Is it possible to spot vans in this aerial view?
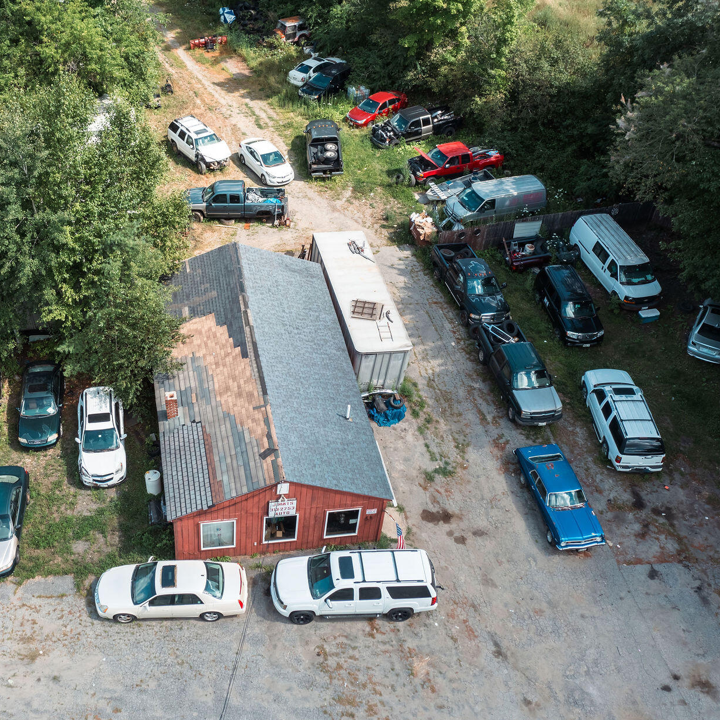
Yes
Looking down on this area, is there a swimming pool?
No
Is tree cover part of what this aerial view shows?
Yes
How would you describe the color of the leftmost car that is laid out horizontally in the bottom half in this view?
white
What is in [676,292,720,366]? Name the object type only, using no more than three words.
car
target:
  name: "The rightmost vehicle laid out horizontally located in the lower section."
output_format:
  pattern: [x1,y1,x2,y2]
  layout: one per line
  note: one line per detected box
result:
[270,545,438,619]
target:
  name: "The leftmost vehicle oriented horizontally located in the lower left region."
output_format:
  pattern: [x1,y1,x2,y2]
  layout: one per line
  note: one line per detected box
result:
[92,558,248,625]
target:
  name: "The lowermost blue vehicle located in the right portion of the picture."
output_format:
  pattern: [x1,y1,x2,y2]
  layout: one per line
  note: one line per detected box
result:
[508,443,600,551]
